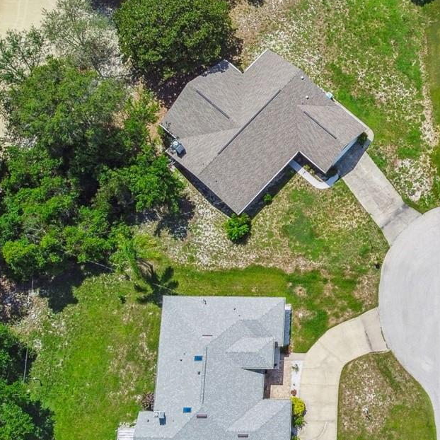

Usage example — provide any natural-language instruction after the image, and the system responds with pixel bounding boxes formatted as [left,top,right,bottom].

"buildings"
[159,50,369,216]
[135,296,292,440]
